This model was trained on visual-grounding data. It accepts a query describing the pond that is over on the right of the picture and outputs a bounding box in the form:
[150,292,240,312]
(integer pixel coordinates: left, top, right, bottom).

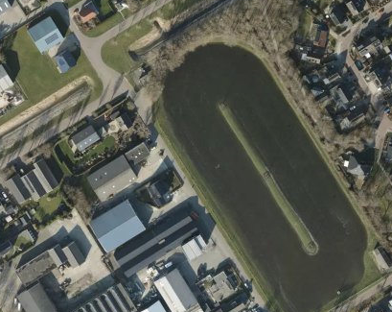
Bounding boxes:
[165,47,364,312]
